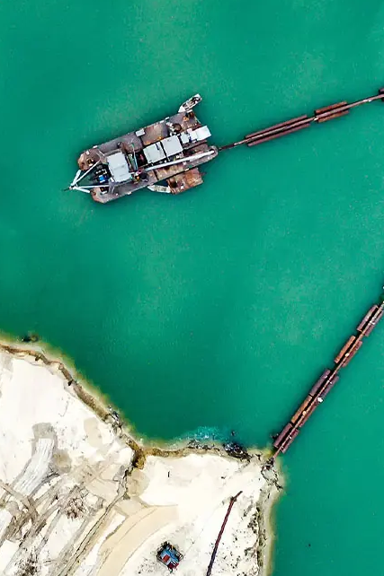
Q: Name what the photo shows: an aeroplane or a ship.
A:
ship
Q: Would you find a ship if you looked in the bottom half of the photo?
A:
No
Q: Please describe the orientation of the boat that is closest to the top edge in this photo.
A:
at an angle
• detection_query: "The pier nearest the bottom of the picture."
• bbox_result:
[266,423,300,464]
